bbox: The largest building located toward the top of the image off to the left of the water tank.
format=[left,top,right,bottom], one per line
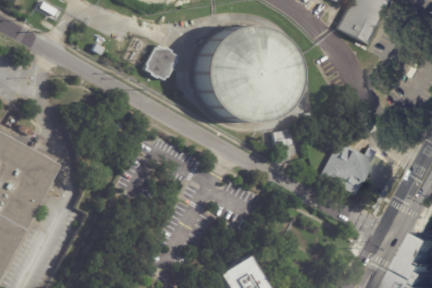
[142,46,176,80]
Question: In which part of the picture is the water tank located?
top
